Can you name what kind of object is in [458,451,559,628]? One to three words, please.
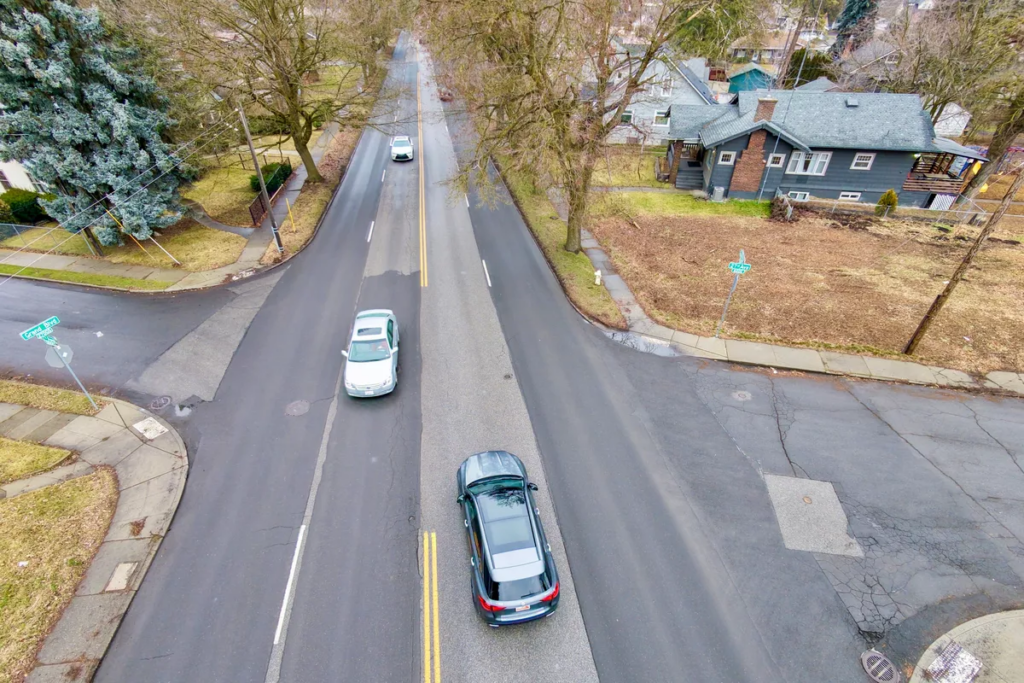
car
